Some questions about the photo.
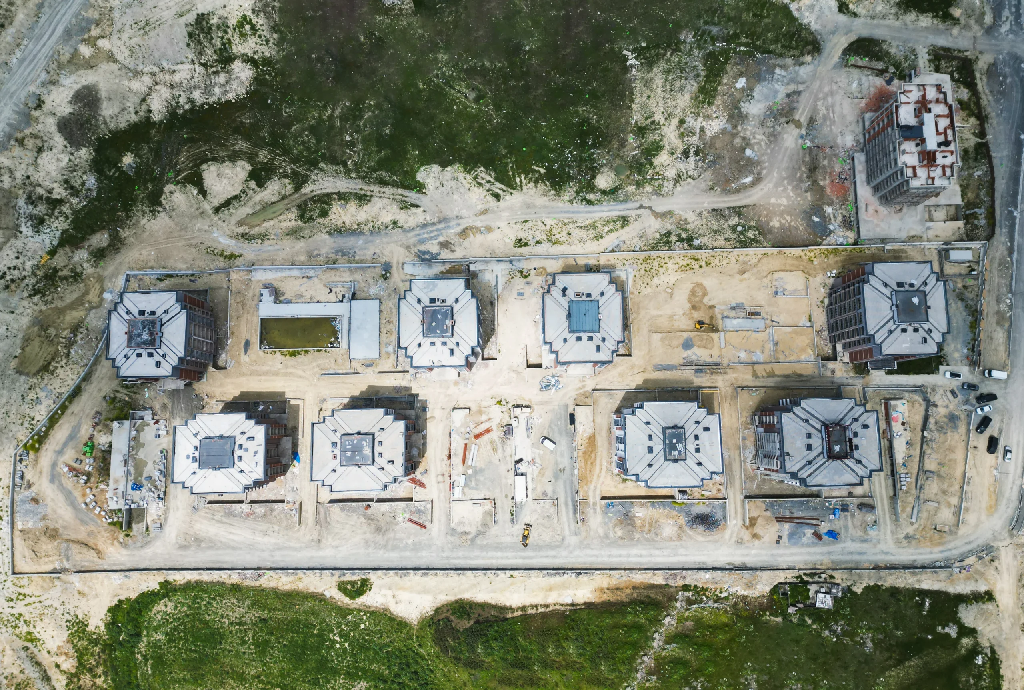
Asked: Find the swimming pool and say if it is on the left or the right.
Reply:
left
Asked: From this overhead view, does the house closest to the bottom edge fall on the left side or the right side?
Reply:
right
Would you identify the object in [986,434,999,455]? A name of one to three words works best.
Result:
vehicle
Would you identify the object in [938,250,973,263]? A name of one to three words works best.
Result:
shed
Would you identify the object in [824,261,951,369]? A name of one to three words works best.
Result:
building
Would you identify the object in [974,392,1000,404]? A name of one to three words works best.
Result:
vehicle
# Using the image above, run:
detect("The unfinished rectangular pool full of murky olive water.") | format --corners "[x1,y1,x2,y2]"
[258,315,344,351]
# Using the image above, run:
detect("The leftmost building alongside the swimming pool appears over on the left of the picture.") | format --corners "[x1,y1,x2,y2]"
[104,291,218,389]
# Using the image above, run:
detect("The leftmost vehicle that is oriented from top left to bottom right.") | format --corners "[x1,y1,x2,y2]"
[539,435,558,451]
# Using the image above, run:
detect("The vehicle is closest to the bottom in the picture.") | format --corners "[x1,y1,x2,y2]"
[518,516,532,549]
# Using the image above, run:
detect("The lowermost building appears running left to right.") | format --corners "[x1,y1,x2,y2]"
[776,581,842,613]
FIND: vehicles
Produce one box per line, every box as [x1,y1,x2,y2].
[960,381,980,392]
[974,392,1000,404]
[974,404,994,415]
[974,415,993,435]
[986,434,999,455]
[982,369,1012,379]
[691,321,714,330]
[539,435,558,451]
[942,370,963,379]
[518,516,532,549]
[1001,444,1013,463]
